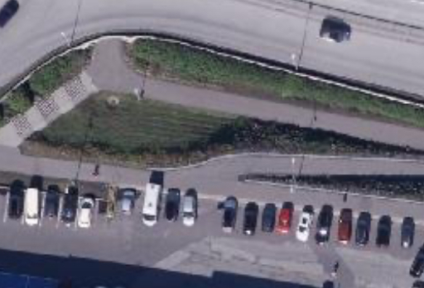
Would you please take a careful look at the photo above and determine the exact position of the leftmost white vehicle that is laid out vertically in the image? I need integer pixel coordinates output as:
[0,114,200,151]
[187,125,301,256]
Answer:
[24,189,39,226]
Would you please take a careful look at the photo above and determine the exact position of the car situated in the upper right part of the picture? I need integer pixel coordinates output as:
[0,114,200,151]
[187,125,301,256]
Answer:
[318,23,350,42]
